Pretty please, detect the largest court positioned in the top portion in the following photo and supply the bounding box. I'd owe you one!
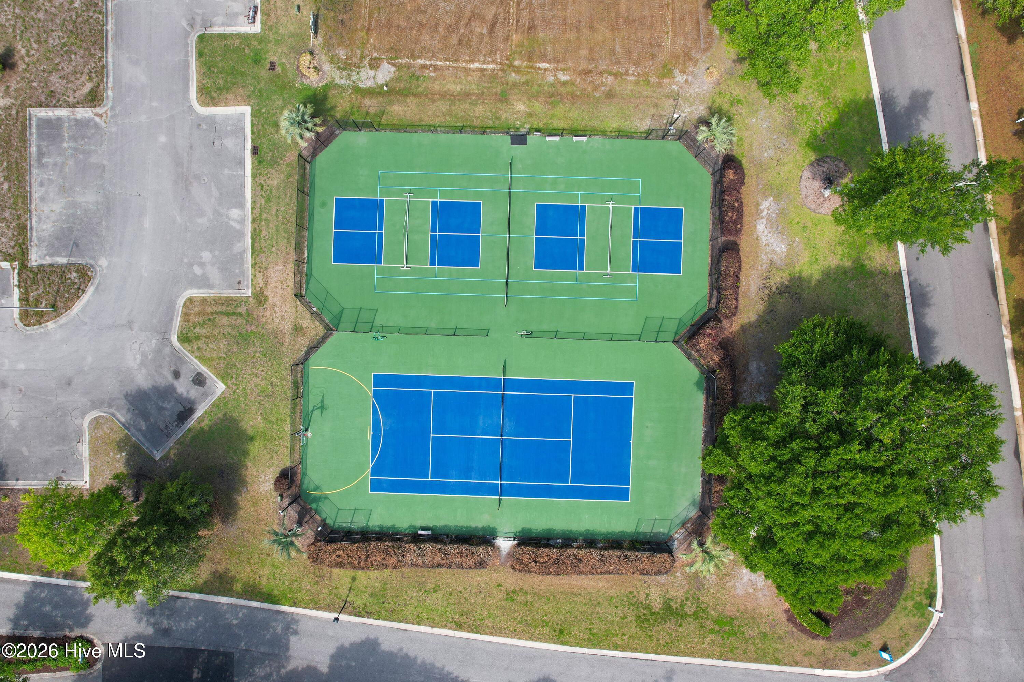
[305,131,711,341]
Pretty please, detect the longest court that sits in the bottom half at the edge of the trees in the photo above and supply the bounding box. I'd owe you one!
[300,332,704,541]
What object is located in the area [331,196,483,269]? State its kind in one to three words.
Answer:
sports court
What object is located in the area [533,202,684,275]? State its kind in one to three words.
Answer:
sports court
